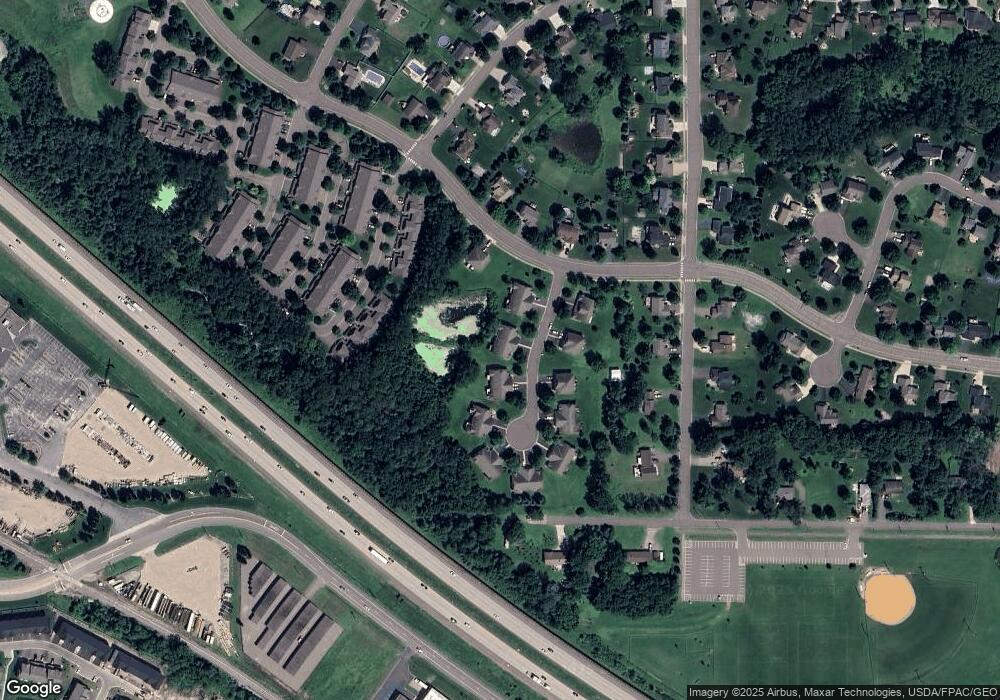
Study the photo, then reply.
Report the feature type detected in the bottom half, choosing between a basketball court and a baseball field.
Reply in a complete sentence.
The feature located in the bottom half is a baseball field.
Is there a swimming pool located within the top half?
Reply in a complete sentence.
Yes, looking within the top half, one can make out a swimming pool.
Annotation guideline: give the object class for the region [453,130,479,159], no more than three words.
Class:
house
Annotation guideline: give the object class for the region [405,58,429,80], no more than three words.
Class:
swimming pool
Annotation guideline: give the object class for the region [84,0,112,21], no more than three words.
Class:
water tower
